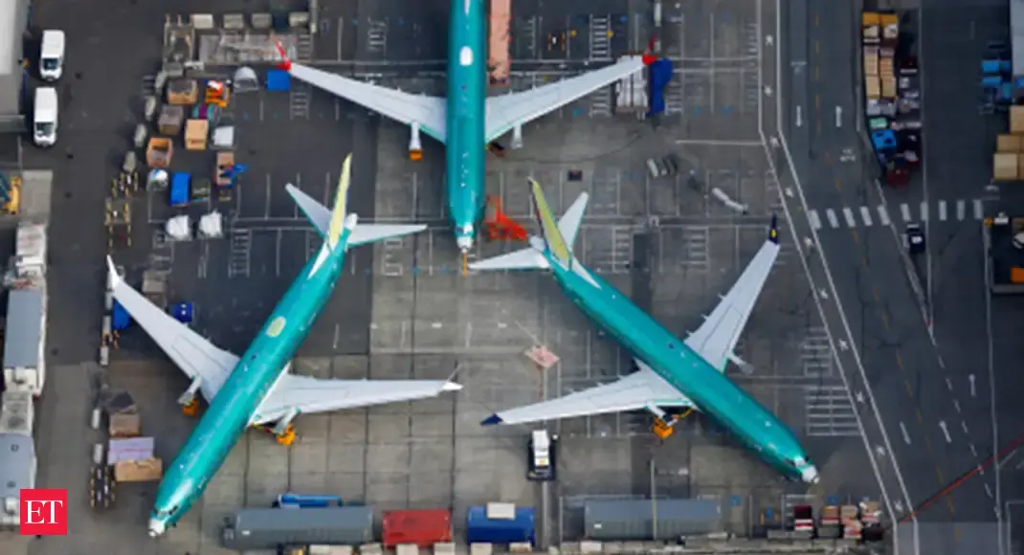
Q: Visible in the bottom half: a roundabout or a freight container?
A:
freight container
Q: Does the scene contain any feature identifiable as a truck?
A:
Yes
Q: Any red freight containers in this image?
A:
Yes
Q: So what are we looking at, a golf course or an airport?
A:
airport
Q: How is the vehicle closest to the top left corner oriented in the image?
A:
up and down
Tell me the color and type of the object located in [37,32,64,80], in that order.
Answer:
white vehicle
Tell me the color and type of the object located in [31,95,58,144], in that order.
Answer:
white vehicle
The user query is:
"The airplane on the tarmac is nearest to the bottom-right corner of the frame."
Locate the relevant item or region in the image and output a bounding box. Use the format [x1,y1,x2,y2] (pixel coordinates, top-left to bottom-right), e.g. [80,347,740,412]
[470,178,821,484]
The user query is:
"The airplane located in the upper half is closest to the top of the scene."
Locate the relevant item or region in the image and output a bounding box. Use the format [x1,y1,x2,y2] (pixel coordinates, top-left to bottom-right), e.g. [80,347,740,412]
[275,0,658,255]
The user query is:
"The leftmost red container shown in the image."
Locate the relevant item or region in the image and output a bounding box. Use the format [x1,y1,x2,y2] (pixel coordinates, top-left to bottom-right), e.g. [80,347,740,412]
[381,508,454,548]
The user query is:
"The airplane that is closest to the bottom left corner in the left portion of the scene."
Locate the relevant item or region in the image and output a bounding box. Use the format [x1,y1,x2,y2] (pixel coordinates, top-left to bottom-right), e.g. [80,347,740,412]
[105,155,463,537]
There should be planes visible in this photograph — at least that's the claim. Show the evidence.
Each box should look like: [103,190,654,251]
[105,155,463,537]
[470,178,821,484]
[275,0,658,255]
